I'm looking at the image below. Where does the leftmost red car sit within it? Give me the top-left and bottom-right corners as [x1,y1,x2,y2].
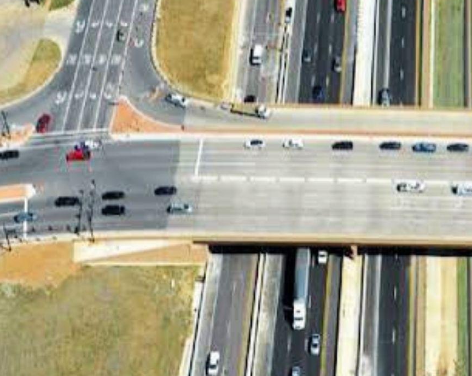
[38,114,50,131]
